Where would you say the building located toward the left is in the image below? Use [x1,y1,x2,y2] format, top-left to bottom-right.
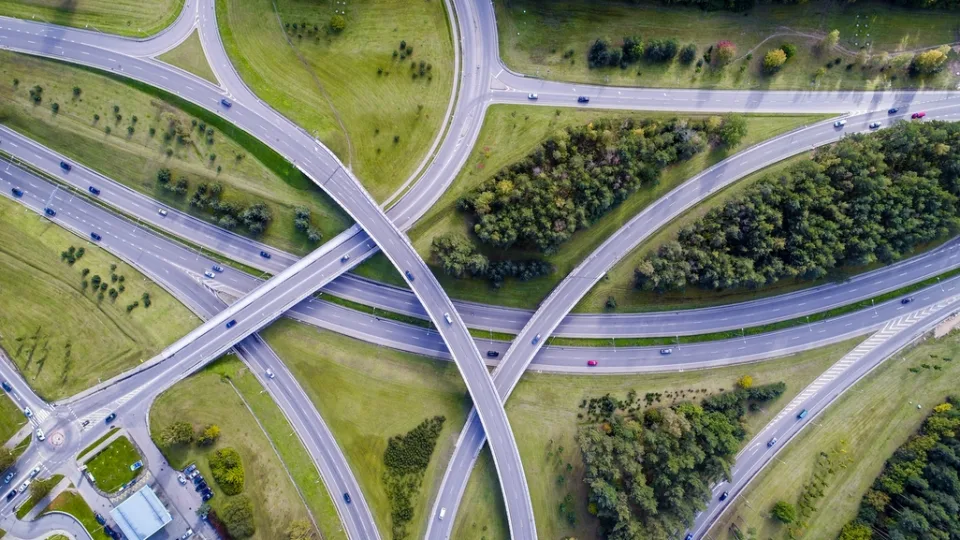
[110,483,174,540]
